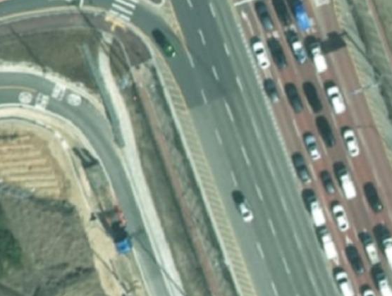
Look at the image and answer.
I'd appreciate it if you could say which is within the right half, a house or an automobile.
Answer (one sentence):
Visible within the right half is an automobile.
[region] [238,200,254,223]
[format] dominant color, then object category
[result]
white car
